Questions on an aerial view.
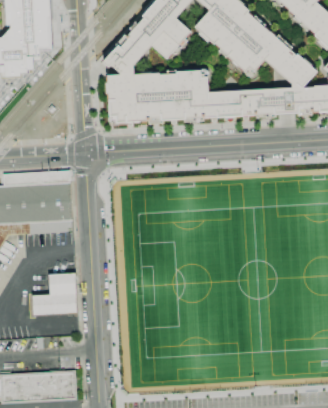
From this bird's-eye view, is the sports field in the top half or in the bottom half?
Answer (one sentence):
Seen from above, the sports field lies in the bottom half of the view.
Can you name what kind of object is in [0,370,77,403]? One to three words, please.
building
